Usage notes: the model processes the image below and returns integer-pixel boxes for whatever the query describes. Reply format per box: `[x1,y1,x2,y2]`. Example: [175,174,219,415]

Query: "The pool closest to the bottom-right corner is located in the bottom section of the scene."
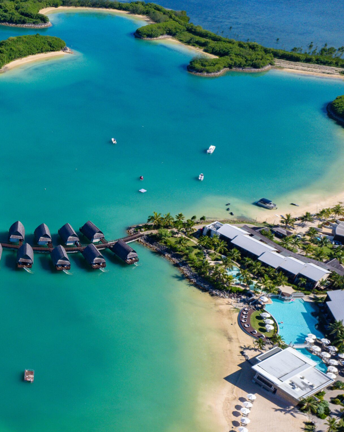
[294,348,329,374]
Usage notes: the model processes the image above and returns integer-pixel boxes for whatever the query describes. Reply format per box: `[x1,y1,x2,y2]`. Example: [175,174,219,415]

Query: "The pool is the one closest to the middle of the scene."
[225,265,268,294]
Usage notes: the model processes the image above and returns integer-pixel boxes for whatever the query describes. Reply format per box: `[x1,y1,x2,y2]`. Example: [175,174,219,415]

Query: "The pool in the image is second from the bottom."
[262,297,326,345]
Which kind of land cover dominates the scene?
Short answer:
water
